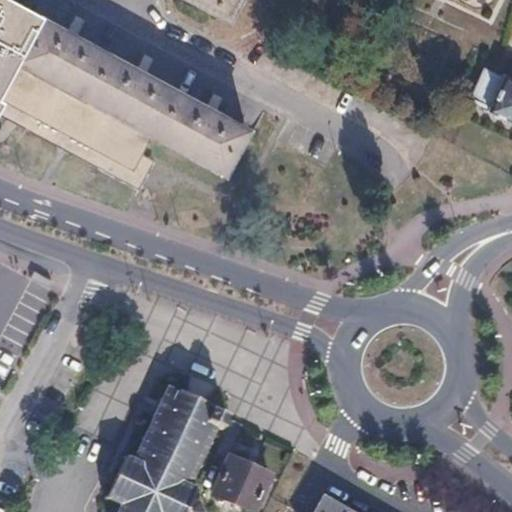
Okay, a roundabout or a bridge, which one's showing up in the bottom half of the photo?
roundabout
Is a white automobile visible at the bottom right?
Yes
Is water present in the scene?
No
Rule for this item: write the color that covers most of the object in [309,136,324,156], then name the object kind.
gray car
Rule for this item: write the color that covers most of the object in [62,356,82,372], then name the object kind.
white car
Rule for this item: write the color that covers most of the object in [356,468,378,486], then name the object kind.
white car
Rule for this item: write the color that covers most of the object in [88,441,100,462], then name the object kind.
white vehicle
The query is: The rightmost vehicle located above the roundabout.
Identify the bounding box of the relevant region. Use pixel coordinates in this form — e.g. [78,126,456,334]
[423,258,442,278]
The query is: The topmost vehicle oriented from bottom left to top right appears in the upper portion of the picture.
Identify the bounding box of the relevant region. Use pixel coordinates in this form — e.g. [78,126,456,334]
[248,41,265,62]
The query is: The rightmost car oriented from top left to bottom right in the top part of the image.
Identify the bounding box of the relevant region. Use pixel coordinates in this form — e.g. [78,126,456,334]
[214,46,235,64]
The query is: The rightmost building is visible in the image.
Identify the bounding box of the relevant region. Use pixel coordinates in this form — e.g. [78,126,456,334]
[468,67,512,122]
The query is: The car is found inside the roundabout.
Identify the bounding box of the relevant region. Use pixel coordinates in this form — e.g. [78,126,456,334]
[350,330,369,350]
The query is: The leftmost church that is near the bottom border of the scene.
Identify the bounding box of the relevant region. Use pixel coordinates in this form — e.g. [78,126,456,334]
[106,381,232,512]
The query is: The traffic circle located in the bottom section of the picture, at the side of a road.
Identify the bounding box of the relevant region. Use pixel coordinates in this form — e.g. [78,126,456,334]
[329,292,478,440]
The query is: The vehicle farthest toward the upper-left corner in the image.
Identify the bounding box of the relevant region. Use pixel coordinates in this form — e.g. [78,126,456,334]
[146,6,166,28]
